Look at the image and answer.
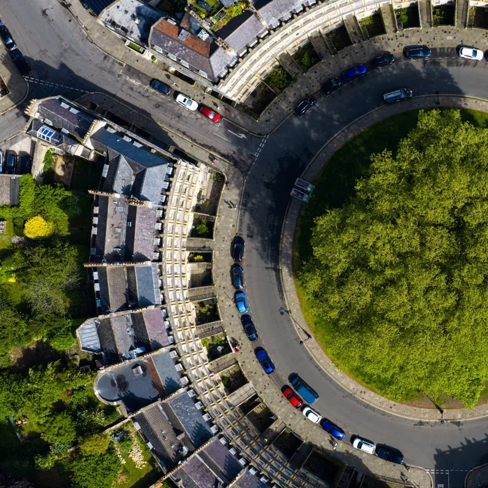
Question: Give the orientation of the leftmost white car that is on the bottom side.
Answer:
on a diagonal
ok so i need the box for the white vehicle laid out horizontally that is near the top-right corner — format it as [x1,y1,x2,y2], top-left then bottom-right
[458,48,484,61]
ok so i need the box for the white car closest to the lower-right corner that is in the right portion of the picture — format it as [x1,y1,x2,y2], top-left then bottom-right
[351,437,376,454]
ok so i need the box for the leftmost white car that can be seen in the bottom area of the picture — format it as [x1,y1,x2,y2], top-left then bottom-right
[300,405,322,425]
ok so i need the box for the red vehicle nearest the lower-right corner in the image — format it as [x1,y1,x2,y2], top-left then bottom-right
[282,387,302,408]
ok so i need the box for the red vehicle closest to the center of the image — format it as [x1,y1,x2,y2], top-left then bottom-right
[197,104,223,124]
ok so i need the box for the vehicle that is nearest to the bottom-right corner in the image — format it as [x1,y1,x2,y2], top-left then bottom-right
[376,446,403,461]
